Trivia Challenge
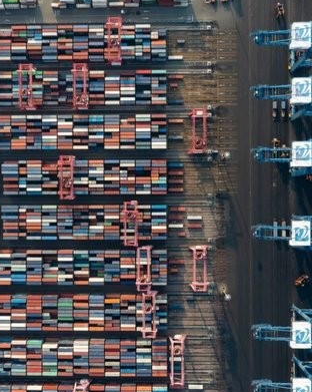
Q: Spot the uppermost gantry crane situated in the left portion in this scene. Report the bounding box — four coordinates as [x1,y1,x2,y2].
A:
[102,15,128,68]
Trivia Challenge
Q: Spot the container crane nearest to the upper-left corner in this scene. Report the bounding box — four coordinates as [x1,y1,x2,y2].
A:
[20,61,46,112]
